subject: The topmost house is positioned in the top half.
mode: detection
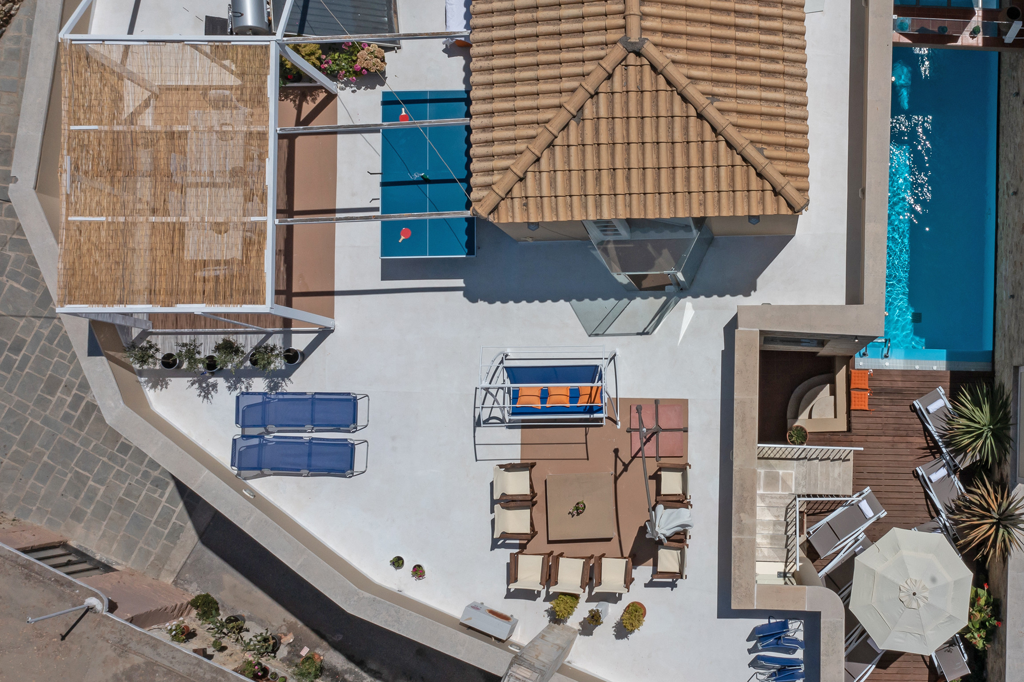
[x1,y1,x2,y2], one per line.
[464,0,814,238]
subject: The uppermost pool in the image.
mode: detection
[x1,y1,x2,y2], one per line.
[852,47,990,360]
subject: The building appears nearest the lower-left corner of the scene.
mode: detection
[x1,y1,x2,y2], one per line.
[0,508,248,682]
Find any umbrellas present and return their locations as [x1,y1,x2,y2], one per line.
[849,527,973,656]
[624,398,708,544]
